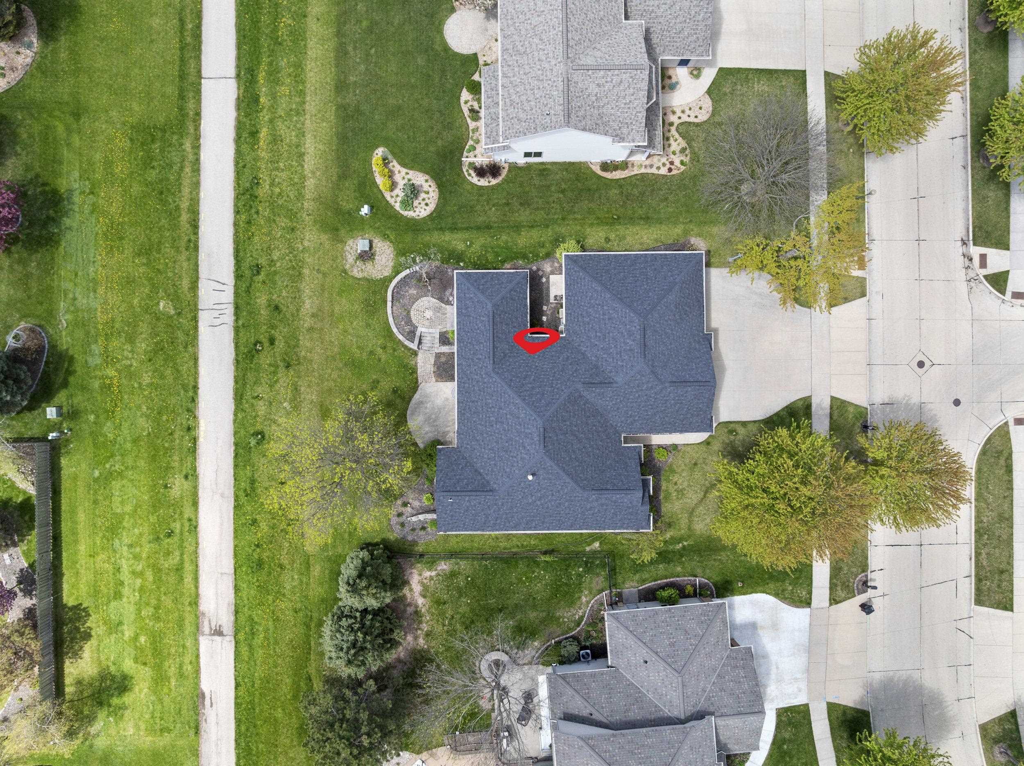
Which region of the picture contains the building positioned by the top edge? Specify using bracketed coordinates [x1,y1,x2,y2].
[462,0,711,173]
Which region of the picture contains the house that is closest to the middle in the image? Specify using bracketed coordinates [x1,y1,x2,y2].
[435,250,718,533]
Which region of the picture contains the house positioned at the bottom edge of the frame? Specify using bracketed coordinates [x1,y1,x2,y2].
[537,570,766,766]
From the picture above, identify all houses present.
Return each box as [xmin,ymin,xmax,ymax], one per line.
[537,570,766,766]
[462,0,711,173]
[435,250,718,533]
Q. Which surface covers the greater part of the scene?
grass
